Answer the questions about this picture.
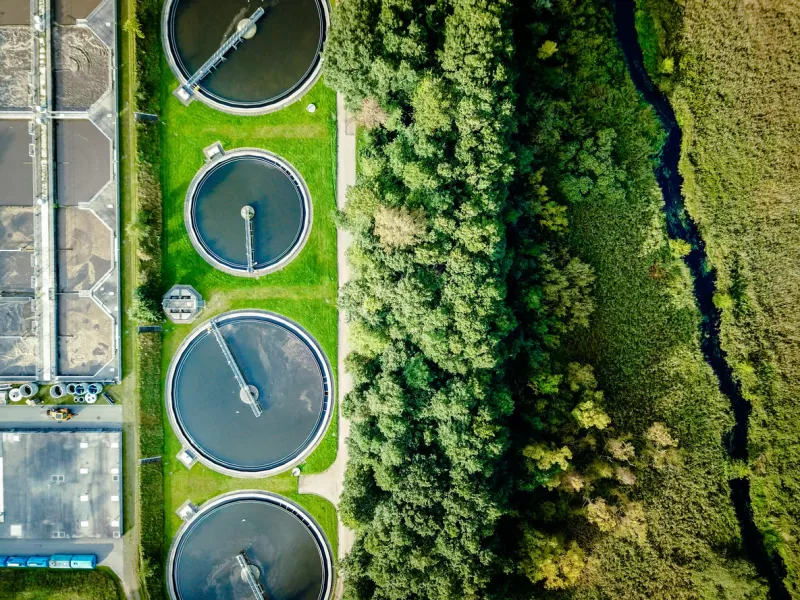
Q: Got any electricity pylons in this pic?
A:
No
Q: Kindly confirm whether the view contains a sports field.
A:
No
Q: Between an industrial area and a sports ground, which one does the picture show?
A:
industrial area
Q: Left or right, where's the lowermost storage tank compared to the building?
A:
to its right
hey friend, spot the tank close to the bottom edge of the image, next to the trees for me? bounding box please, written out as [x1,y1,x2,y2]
[166,490,334,600]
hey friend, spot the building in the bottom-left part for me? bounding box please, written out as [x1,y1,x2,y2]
[0,431,124,538]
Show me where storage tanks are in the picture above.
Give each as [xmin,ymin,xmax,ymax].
[166,490,334,600]
[162,0,330,115]
[165,309,334,479]
[183,142,312,276]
